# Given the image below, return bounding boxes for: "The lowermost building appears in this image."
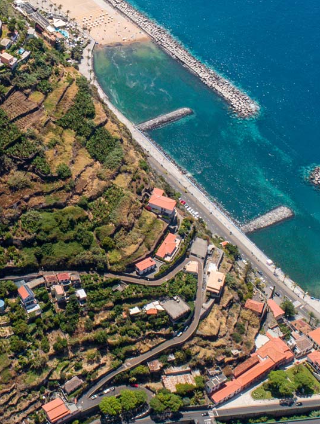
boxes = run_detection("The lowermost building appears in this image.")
[42,400,71,424]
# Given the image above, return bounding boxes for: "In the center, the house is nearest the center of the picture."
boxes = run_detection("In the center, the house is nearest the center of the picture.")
[148,188,177,219]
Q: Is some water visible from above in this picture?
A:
Yes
